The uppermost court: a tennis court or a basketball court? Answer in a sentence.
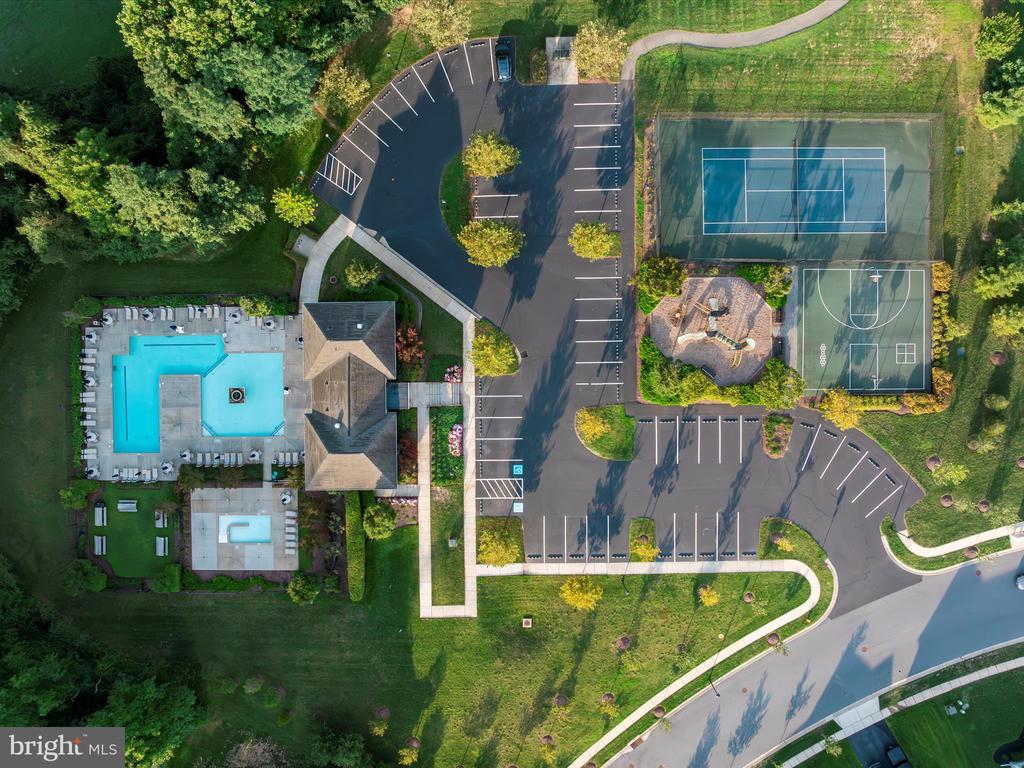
The uppermost court is a tennis court.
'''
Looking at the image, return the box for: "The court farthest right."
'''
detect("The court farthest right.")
[797,263,932,394]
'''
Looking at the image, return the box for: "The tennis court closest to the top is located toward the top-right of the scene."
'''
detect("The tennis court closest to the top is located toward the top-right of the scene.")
[657,118,931,262]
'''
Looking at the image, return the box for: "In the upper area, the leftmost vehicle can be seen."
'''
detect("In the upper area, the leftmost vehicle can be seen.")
[495,43,513,83]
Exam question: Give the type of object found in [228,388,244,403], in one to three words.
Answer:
fountain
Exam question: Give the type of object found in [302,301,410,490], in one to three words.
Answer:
building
